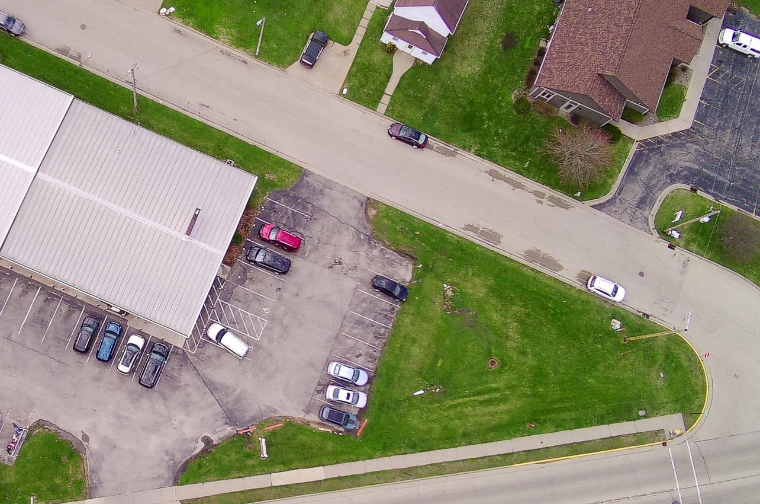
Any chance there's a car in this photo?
Yes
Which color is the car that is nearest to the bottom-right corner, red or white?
white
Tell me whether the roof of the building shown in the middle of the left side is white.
Yes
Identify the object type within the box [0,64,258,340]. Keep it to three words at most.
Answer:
building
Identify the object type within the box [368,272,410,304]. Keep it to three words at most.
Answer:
car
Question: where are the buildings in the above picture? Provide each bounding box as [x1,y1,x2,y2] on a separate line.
[0,64,258,340]
[382,0,468,64]
[528,0,728,123]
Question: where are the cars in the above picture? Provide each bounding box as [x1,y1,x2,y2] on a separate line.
[326,363,369,389]
[244,245,294,277]
[316,406,358,433]
[368,272,410,304]
[298,28,326,71]
[117,333,144,377]
[139,342,169,391]
[258,223,303,254]
[584,275,626,302]
[0,9,27,37]
[206,324,252,361]
[73,314,101,355]
[324,385,368,410]
[386,122,430,152]
[96,320,123,364]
